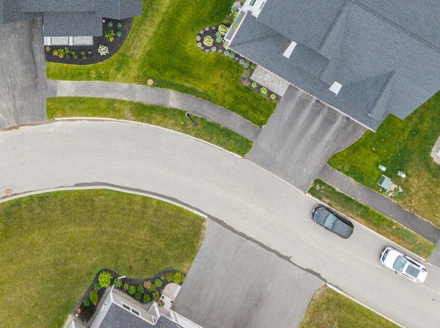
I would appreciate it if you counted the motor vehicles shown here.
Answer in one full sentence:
I count 2 motor vehicles.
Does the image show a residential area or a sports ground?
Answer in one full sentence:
The picture captures a residential area.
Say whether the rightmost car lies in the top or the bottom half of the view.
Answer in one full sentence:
The rightmost car is in the bottom half of the image.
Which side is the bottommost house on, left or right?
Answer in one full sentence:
The bottommost house appears in the left half of the scene.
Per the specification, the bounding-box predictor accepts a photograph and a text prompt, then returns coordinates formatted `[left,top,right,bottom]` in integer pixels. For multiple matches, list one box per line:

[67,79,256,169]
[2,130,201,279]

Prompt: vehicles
[379,248,431,286]
[309,204,357,243]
